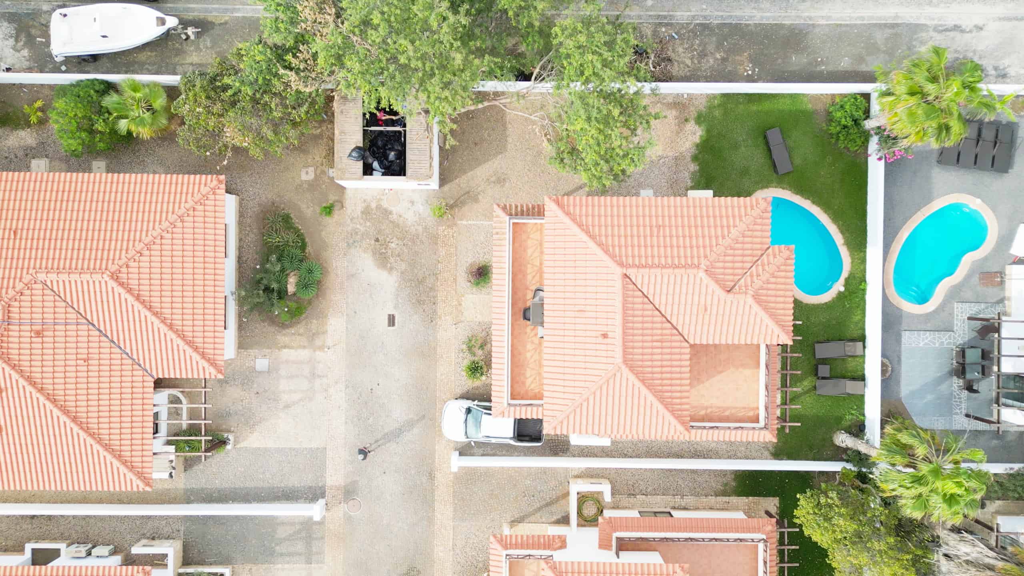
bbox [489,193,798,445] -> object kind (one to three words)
house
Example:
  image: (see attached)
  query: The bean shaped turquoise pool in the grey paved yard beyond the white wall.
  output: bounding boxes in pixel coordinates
[884,193,998,314]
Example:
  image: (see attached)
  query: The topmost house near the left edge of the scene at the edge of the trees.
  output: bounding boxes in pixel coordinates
[0,172,241,493]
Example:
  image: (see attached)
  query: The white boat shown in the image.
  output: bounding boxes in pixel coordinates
[51,3,178,56]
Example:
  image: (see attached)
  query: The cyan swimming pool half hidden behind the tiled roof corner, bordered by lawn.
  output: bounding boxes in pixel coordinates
[763,189,853,304]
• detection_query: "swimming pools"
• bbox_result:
[884,193,998,314]
[763,189,853,304]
